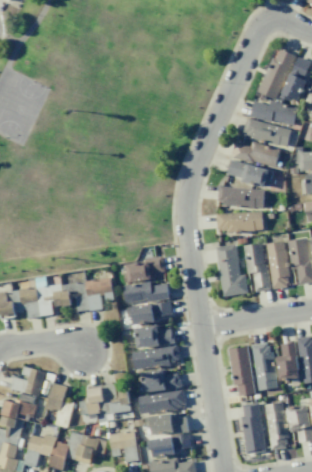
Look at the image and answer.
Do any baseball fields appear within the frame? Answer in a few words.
No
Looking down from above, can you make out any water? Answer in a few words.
No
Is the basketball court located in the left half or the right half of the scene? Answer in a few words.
left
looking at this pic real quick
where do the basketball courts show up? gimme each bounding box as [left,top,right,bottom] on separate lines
[0,67,50,147]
